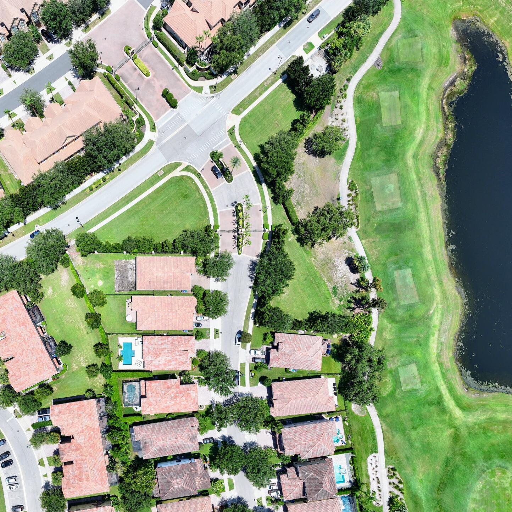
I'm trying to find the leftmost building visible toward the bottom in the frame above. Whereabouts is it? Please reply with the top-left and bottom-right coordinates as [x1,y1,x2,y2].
[0,290,60,392]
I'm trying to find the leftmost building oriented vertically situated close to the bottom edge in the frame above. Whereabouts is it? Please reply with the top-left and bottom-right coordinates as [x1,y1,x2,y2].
[51,399,109,497]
